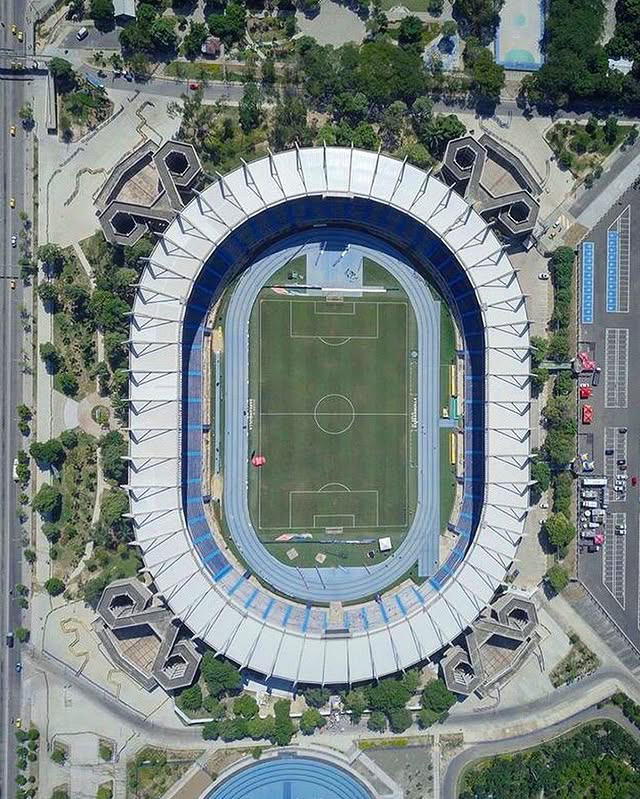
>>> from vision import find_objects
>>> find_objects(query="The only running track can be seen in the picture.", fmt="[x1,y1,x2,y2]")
[224,229,457,602]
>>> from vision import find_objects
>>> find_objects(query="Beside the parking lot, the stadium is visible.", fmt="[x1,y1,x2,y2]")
[121,140,537,691]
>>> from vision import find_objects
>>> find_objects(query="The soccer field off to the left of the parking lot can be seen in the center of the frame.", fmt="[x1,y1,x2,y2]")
[258,298,409,530]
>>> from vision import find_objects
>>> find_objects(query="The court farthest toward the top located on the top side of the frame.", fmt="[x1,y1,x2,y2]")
[495,0,544,70]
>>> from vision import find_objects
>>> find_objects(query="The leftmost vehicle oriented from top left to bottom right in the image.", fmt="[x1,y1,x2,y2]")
[84,70,104,89]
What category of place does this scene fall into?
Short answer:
sports ground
